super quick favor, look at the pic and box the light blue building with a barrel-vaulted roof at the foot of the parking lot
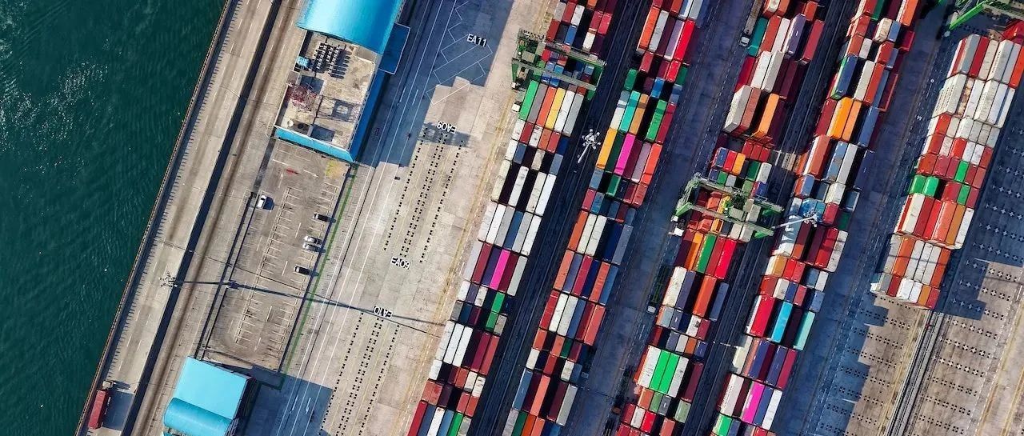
[157,356,259,436]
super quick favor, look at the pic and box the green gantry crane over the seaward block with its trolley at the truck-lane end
[506,29,607,112]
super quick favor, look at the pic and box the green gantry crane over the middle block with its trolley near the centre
[668,175,784,244]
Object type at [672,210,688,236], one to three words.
vehicle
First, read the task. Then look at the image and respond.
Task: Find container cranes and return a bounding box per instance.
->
[942,0,1024,50]
[506,29,607,112]
[668,175,784,244]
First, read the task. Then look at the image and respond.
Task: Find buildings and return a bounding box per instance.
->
[273,0,412,162]
[157,356,259,436]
